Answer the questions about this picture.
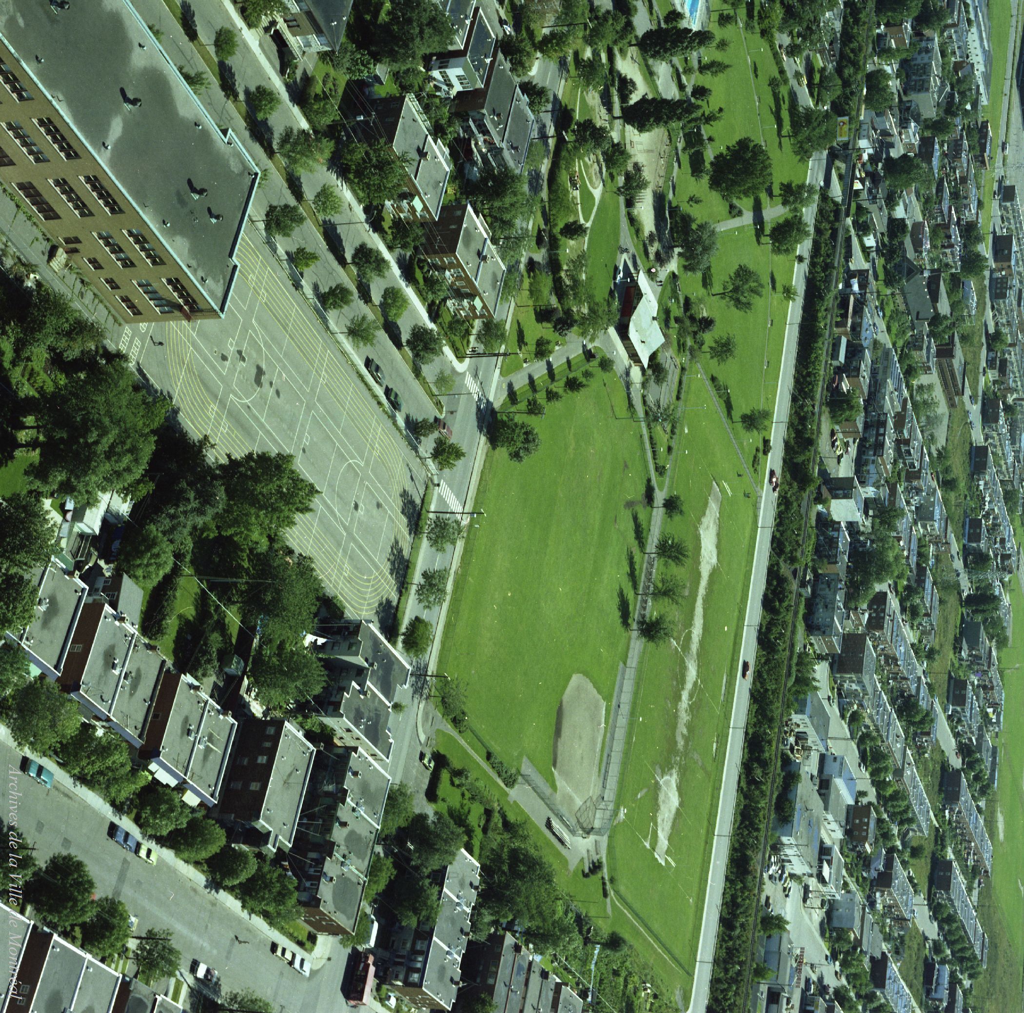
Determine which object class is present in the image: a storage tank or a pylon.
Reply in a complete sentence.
The image shows a pylon.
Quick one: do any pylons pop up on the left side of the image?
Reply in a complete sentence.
No, the scene shows no pylon on the left side of the image.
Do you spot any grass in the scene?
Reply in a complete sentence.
Yes, grass can be seen from above here.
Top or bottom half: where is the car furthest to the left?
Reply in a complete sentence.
The bottom half of the photo is where the car furthest to the left is.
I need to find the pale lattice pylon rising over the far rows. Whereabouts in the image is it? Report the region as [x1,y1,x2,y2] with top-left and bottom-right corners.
[954,566,1019,591]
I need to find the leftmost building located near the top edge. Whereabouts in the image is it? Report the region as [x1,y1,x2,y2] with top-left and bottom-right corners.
[0,0,259,328]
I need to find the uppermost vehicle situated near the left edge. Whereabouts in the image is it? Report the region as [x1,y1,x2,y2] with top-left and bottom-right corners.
[25,758,58,791]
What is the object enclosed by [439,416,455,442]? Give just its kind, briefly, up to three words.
car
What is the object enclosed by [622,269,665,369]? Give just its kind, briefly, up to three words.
building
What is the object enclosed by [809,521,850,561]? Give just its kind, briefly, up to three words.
house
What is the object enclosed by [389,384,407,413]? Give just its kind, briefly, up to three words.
car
